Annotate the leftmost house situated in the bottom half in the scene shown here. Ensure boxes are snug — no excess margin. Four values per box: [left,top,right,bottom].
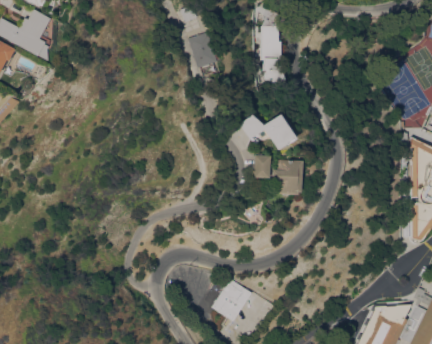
[212,280,251,321]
